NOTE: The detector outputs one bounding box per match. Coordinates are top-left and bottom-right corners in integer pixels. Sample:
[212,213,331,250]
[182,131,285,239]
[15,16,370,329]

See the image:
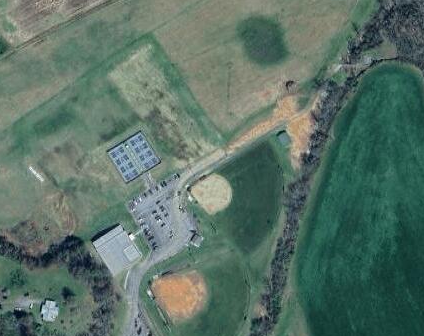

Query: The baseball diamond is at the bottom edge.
[146,252,250,336]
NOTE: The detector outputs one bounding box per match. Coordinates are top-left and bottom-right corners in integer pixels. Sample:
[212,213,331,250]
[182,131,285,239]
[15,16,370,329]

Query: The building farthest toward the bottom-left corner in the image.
[41,300,59,321]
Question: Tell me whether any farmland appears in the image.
Yes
